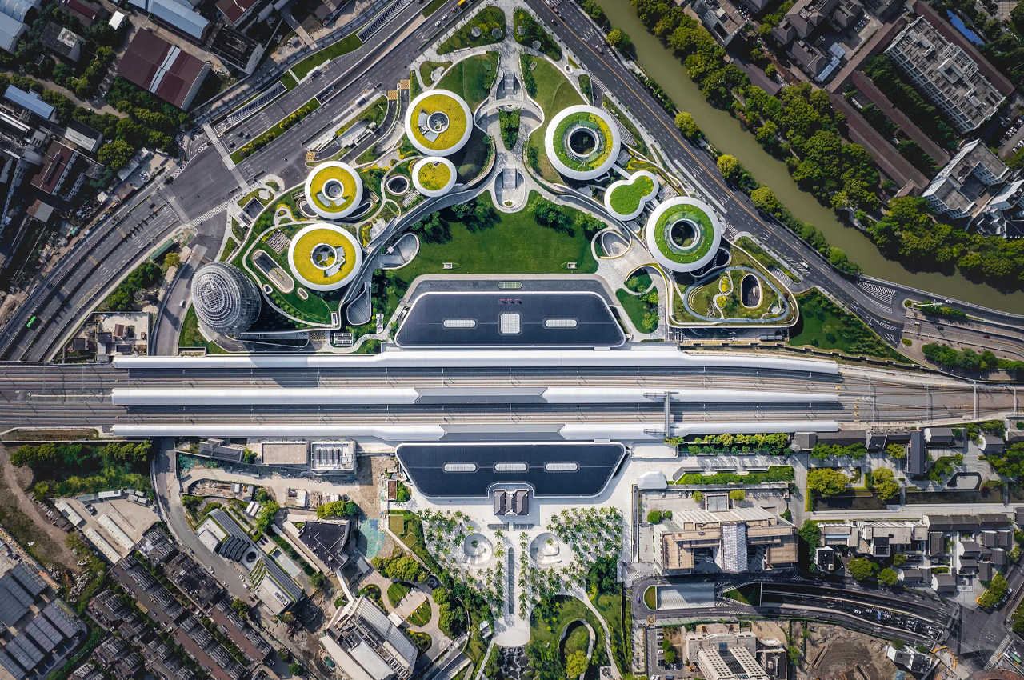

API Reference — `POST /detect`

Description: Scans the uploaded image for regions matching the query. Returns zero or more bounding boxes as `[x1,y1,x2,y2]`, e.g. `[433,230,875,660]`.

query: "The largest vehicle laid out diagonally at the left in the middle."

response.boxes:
[24,314,40,330]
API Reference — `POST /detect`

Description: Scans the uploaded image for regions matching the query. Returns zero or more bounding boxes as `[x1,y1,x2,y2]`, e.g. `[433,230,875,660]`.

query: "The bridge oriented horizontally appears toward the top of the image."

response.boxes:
[474,96,546,126]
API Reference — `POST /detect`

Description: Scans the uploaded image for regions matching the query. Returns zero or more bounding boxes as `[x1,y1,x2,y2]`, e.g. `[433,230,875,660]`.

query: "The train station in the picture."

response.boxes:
[111,350,840,441]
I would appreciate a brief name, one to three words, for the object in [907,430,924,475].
building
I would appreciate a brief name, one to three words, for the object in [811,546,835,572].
house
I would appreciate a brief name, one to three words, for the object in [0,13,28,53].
shed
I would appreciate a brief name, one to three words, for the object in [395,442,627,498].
building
